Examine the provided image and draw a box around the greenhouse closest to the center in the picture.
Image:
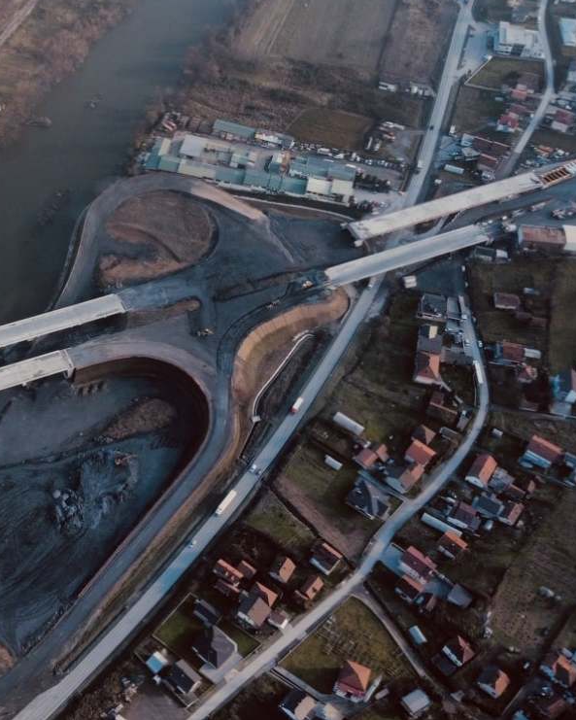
[331,413,367,440]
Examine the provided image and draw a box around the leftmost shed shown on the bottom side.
[147,651,166,673]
